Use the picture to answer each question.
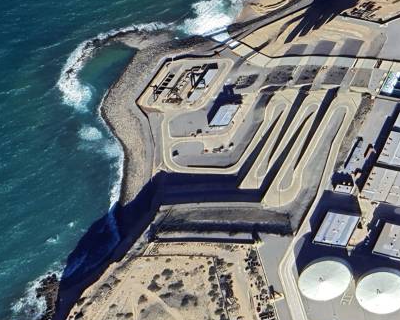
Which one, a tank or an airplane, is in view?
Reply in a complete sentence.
There is a tank in the scene.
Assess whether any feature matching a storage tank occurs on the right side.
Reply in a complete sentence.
Yes, a storage tank shows up on the right side.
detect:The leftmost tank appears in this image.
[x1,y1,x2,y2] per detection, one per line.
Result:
[298,248,353,304]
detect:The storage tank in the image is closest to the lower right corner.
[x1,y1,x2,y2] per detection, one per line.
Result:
[355,261,400,316]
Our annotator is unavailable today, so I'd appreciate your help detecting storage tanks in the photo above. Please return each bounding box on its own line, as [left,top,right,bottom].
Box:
[355,261,400,316]
[298,248,353,304]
